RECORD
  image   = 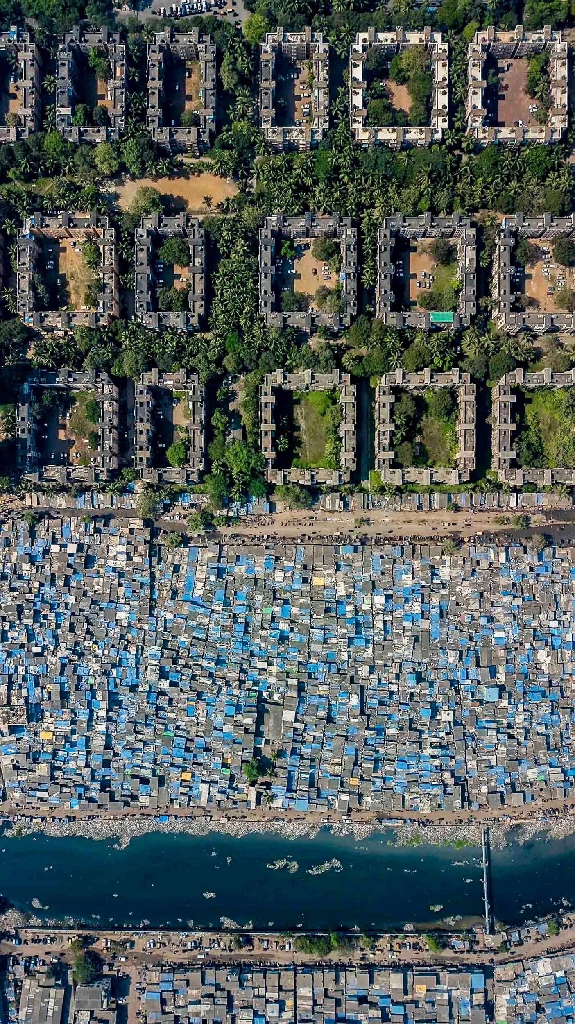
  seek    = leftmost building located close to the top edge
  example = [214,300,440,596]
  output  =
[0,25,44,156]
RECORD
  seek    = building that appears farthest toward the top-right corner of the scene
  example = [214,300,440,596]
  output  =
[462,25,566,154]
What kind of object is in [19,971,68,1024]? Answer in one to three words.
shed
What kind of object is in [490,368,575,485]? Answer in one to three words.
building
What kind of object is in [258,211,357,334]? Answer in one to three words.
building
